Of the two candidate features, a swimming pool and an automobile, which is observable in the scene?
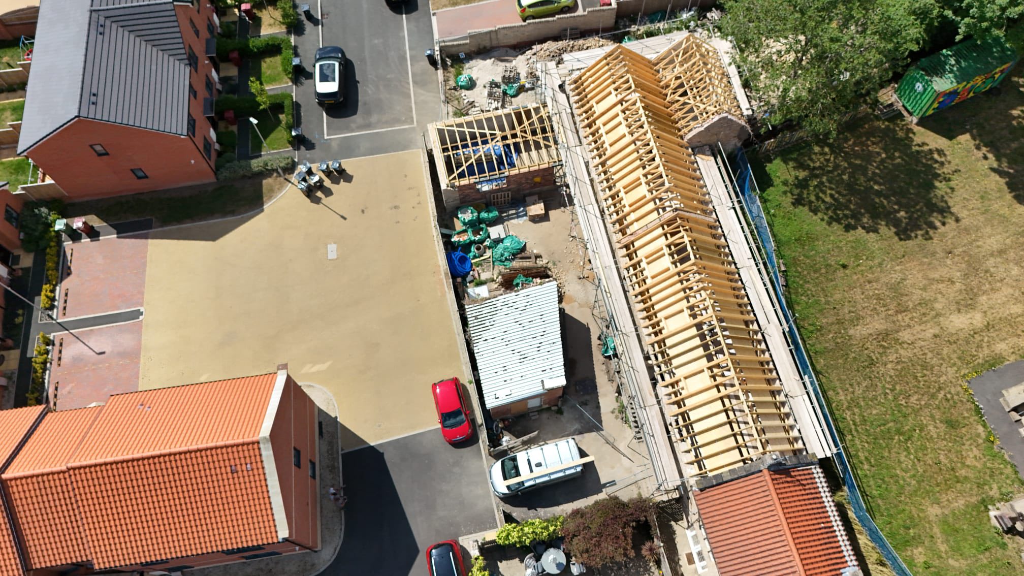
automobile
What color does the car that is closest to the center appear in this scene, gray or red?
red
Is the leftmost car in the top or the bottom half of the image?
top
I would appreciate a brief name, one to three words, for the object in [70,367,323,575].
house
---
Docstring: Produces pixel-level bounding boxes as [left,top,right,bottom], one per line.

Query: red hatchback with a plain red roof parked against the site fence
[429,374,474,449]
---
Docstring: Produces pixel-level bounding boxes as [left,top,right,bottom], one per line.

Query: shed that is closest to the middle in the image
[466,282,566,415]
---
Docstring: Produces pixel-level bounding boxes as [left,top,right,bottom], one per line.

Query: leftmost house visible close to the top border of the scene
[13,0,224,201]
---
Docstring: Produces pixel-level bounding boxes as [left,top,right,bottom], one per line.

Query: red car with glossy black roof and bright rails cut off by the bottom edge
[428,537,469,576]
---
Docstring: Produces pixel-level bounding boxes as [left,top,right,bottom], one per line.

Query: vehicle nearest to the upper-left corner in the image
[313,51,348,104]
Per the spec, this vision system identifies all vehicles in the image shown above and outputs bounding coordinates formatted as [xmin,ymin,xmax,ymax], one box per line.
[313,51,348,104]
[518,0,571,17]
[428,537,469,576]
[429,374,474,449]
[490,446,591,504]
